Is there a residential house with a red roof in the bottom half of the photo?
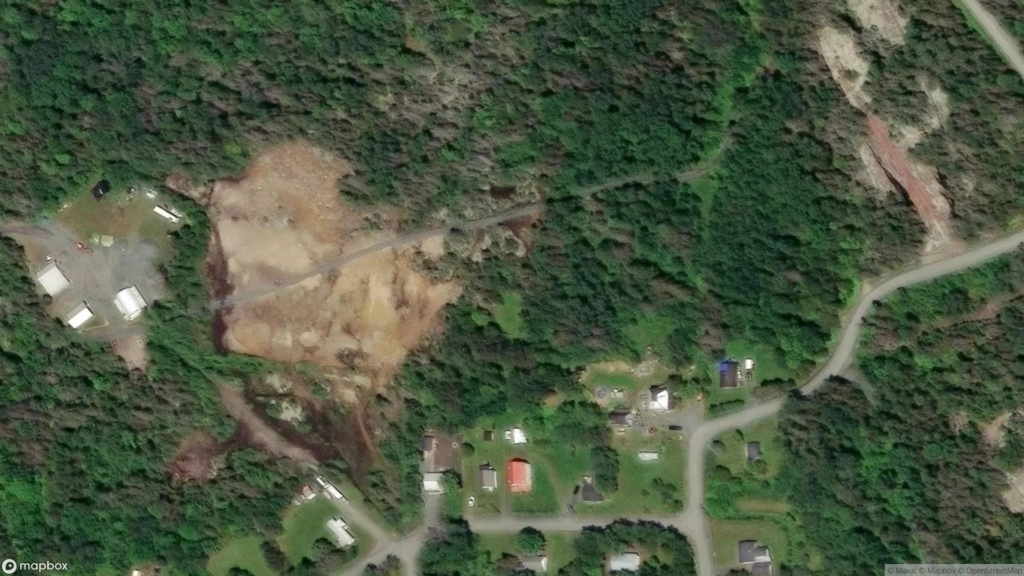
Yes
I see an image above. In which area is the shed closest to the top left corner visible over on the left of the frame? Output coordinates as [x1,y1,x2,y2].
[91,180,113,203]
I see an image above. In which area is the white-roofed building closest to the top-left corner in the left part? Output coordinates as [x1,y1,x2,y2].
[36,262,73,299]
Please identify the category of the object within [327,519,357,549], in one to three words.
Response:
house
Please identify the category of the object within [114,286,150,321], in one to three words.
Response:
barn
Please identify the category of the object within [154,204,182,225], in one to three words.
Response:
camper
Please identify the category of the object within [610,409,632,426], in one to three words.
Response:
shed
